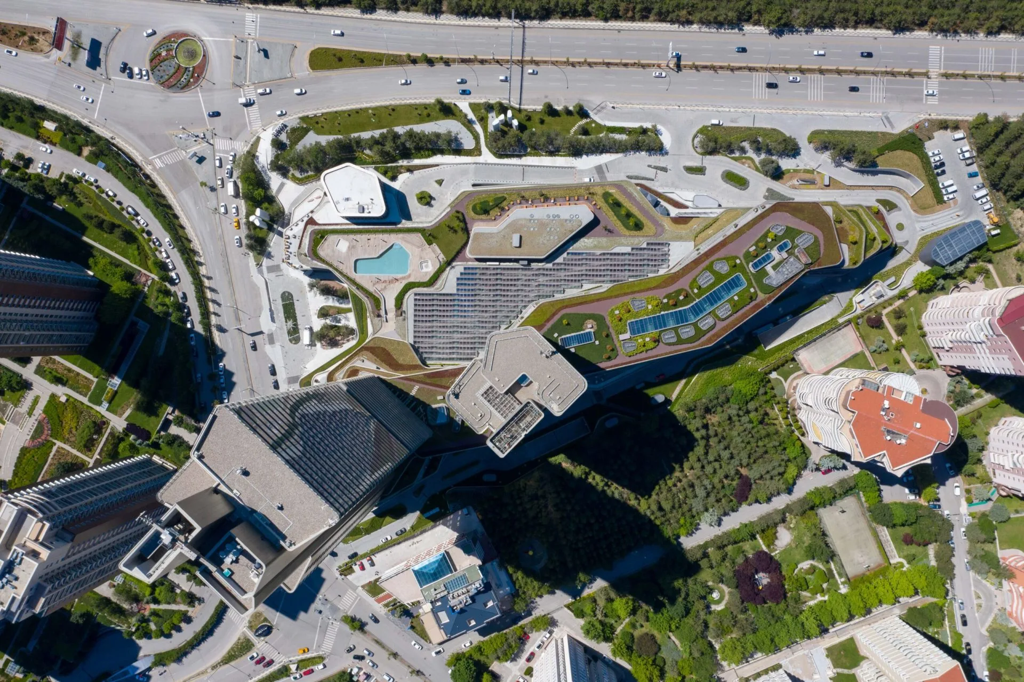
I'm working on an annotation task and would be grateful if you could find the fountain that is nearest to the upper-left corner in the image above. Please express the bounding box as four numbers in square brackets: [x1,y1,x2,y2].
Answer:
[174,38,204,67]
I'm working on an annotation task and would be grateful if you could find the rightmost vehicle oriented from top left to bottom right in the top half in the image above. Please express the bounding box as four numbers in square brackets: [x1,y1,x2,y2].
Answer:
[983,210,1003,225]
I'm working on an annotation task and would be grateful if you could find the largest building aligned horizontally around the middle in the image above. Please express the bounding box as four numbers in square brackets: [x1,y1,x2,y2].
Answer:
[305,179,894,454]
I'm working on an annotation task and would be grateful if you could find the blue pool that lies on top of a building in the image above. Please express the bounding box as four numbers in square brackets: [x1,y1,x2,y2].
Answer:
[353,241,411,276]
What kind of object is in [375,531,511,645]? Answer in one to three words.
building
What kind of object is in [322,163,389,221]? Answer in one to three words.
building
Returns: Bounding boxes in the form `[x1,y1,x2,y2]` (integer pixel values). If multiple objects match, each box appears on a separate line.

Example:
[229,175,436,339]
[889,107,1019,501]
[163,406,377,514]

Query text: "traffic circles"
[149,32,207,91]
